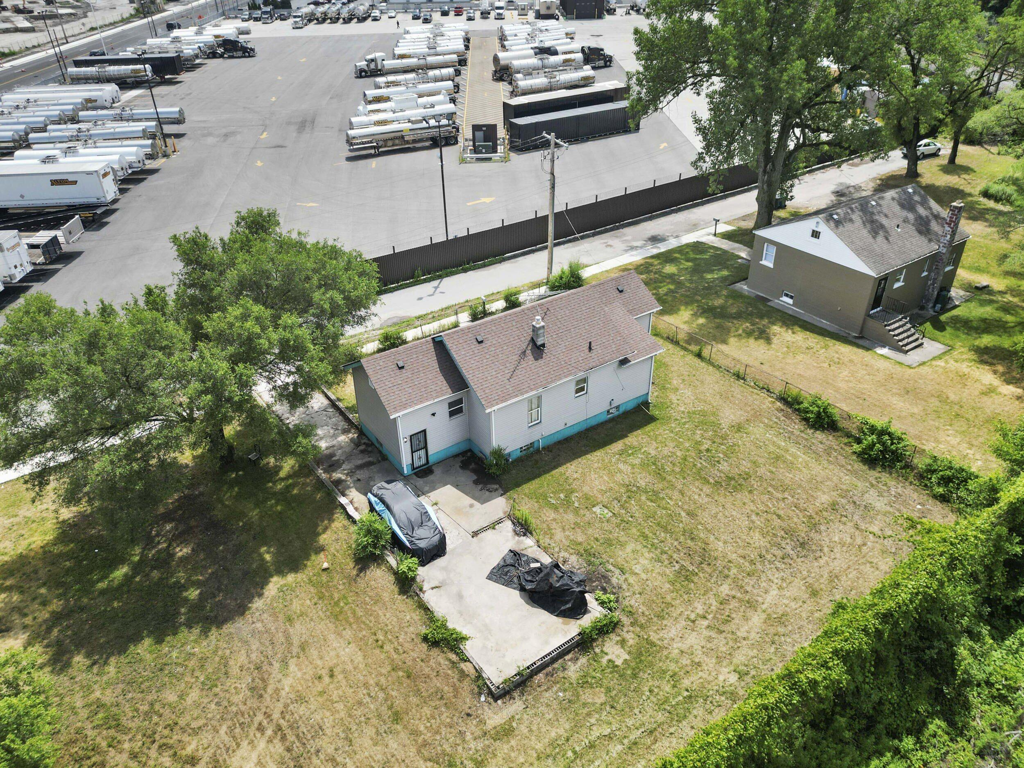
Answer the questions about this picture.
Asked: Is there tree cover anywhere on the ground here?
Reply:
Yes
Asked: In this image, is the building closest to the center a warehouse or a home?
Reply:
home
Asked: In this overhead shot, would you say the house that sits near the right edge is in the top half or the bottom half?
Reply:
top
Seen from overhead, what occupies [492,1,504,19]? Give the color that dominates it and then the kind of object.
white vehicle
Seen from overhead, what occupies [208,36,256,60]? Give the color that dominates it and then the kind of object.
black truck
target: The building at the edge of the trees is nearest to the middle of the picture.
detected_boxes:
[342,266,668,474]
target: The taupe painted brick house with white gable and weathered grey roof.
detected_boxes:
[746,184,978,353]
